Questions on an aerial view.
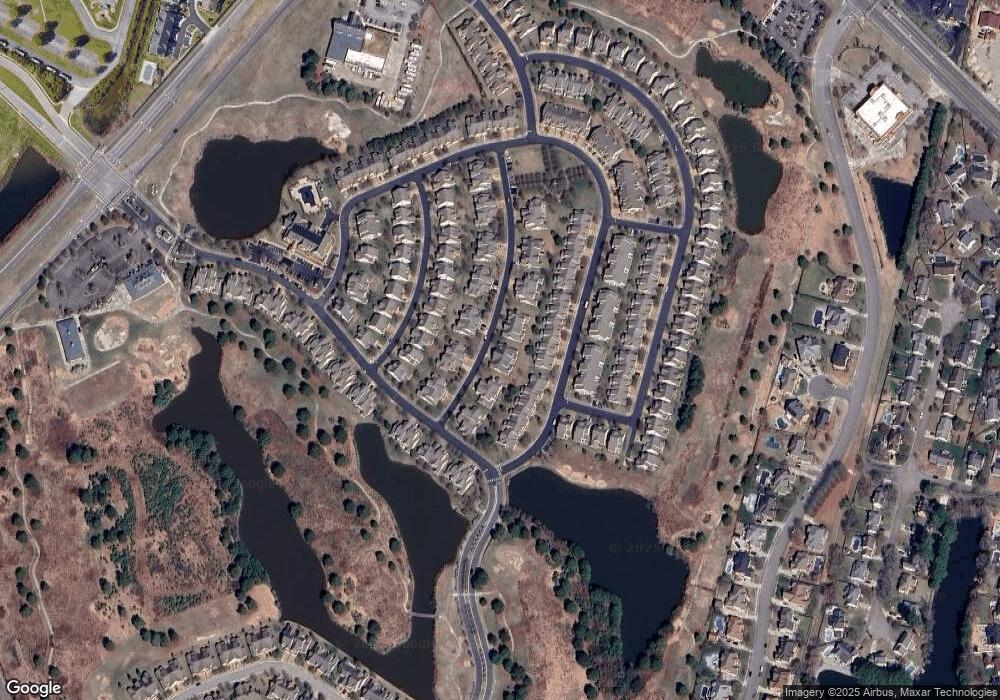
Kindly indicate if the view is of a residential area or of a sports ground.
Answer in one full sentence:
This looks like a residential area.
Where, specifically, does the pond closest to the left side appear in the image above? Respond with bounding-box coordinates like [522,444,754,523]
[0,149,60,243]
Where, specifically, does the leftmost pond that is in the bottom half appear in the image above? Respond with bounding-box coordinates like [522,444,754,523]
[508,468,689,664]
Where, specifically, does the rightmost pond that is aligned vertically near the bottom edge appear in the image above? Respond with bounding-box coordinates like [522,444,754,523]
[913,516,984,700]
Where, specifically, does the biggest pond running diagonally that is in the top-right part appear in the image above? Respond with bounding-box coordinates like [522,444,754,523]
[695,47,770,108]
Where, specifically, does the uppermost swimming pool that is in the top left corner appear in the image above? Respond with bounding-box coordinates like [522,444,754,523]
[142,62,156,83]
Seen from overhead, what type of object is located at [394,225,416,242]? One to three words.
house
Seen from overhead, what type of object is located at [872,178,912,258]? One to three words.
pond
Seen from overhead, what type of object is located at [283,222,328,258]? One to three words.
building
